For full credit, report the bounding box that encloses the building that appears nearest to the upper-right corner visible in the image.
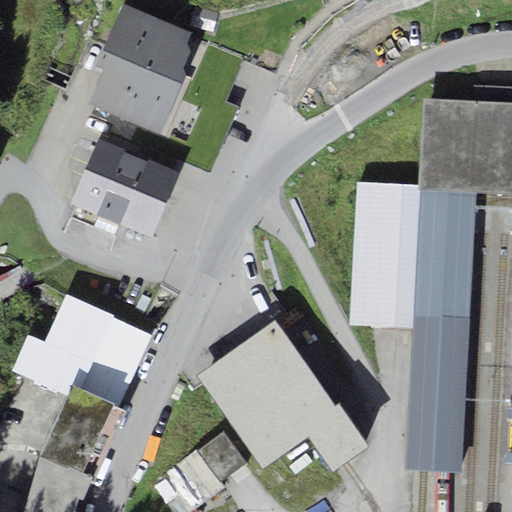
[419,98,512,194]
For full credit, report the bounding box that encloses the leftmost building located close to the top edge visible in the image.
[89,4,193,136]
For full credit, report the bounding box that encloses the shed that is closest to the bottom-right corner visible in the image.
[405,316,470,473]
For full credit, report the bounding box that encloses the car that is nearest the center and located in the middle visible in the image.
[244,254,256,278]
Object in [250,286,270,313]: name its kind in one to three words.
vehicle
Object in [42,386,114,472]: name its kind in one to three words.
building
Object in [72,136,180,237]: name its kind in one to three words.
house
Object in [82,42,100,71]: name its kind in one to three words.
car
